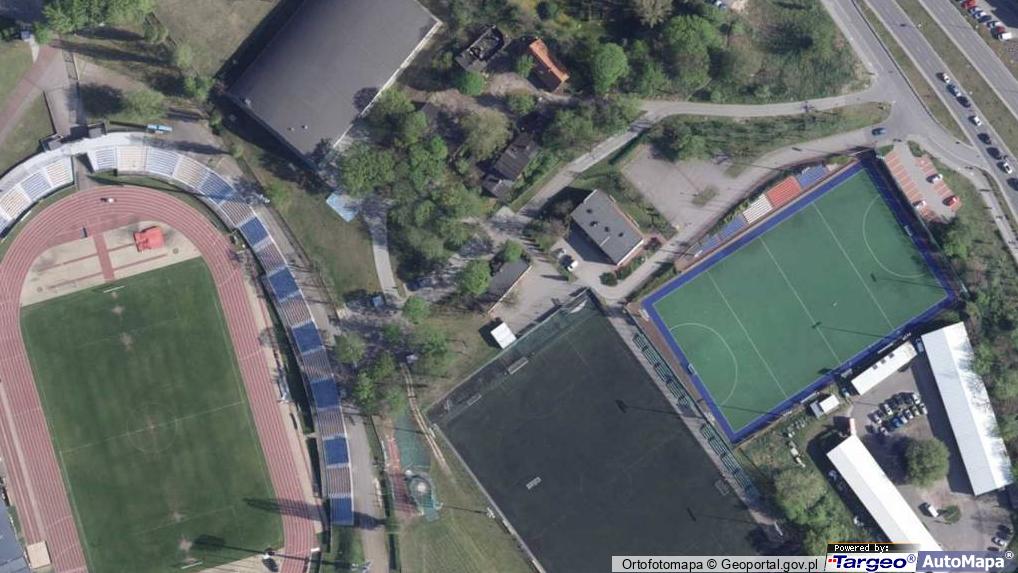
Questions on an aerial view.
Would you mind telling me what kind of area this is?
sports ground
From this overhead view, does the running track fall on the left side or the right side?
left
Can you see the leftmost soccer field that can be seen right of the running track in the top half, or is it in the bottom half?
bottom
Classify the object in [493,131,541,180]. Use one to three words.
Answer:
house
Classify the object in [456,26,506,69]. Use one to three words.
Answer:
house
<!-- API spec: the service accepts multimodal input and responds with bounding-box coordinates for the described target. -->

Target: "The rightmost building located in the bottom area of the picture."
[921,322,1012,496]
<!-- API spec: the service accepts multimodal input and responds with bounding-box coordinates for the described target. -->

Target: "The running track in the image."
[0,185,318,573]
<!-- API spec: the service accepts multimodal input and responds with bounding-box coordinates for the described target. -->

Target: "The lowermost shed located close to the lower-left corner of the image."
[27,541,51,568]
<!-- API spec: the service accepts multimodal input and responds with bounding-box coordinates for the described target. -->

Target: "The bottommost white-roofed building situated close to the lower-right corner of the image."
[827,435,956,573]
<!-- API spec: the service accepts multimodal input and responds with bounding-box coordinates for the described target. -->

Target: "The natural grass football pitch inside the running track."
[21,258,282,573]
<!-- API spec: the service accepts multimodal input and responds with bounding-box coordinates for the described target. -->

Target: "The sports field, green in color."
[642,155,957,443]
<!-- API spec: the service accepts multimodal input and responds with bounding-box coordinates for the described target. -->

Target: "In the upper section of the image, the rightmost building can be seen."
[572,189,645,265]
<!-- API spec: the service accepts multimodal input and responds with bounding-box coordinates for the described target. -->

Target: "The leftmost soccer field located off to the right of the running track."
[430,291,785,573]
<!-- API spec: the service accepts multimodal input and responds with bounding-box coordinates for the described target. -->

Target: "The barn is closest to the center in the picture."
[471,261,531,311]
